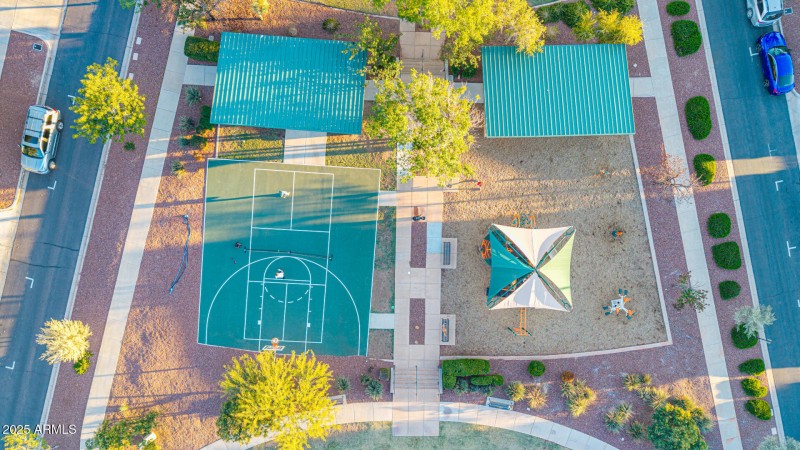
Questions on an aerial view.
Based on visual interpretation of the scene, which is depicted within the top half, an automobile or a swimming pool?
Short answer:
automobile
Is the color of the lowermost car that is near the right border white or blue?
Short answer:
blue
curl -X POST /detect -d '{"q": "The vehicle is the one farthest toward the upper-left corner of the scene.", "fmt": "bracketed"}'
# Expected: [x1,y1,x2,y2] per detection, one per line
[20,106,63,173]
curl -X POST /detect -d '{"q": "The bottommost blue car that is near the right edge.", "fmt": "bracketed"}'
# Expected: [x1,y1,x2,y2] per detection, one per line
[756,29,797,92]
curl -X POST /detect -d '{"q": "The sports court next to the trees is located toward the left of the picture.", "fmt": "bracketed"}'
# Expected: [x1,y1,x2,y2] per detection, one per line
[198,159,380,356]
